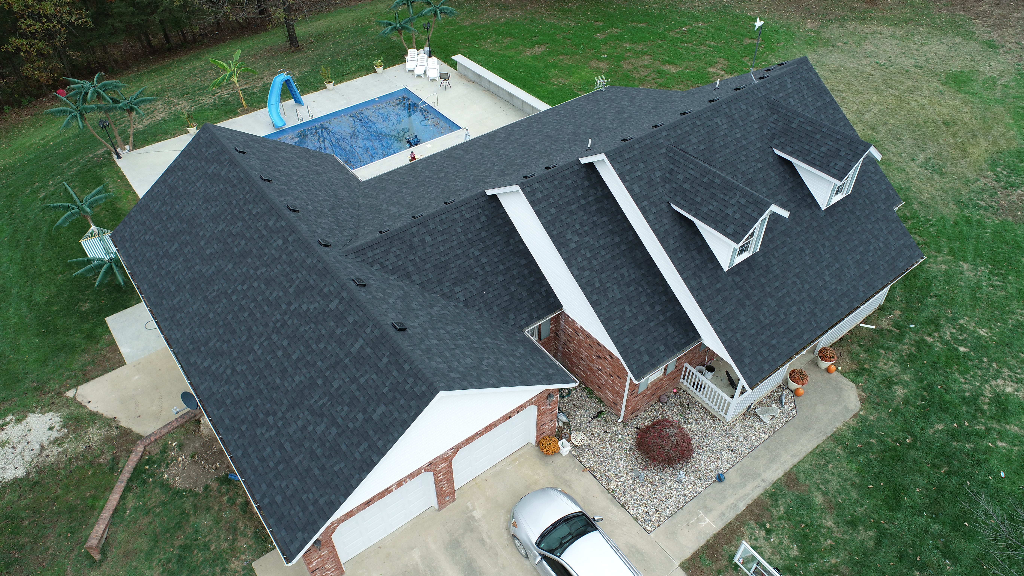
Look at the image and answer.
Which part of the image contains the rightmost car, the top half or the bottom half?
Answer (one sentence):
The rightmost car sits in the bottom half of the picture.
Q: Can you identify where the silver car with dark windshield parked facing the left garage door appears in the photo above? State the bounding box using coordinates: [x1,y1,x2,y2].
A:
[504,486,632,576]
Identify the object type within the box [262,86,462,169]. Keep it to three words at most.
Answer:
swimming pool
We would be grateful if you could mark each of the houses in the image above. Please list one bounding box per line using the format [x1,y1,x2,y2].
[109,56,927,576]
